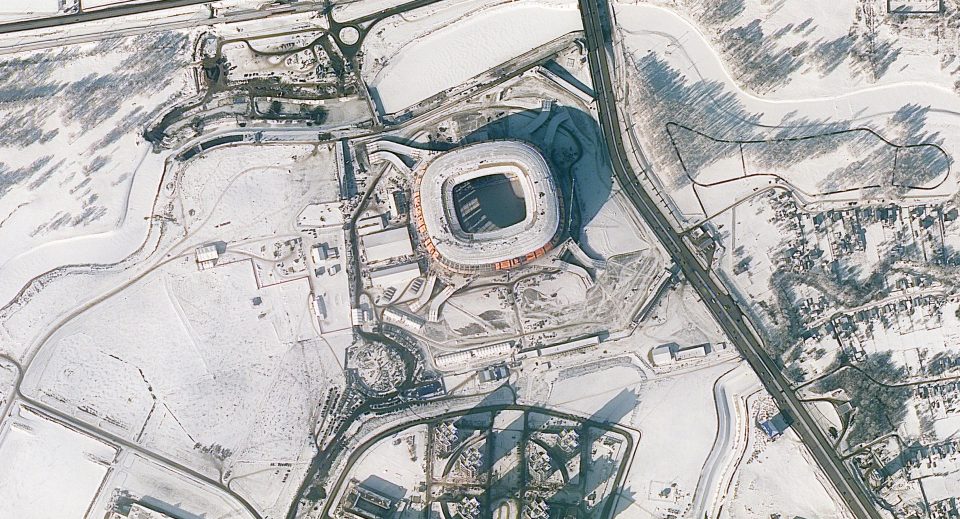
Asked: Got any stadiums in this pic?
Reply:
Yes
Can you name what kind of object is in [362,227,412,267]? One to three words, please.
building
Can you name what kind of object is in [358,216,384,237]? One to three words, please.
building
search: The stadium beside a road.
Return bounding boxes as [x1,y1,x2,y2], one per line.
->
[409,139,562,284]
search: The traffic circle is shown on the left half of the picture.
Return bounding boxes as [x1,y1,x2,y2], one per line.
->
[332,20,365,51]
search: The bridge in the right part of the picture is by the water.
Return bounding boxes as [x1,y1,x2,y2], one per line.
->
[578,0,608,74]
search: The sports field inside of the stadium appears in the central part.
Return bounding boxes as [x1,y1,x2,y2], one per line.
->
[452,183,527,235]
